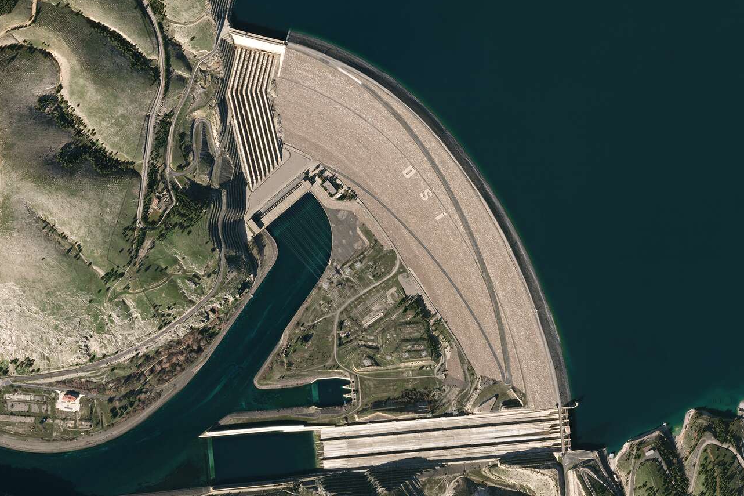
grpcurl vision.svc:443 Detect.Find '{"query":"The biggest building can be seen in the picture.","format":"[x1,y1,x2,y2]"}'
[257,177,313,233]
